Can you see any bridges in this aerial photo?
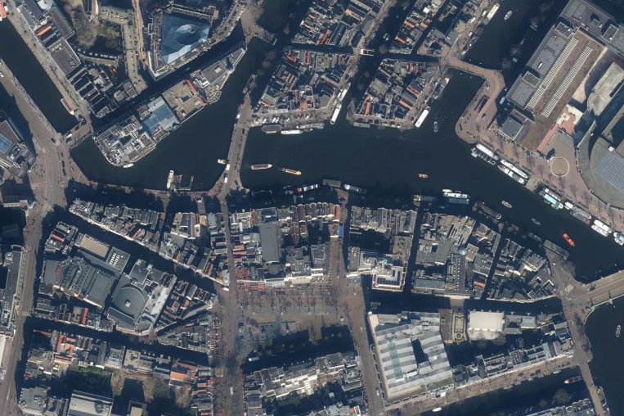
Yes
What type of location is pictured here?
residential area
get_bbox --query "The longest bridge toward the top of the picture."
[208,88,253,192]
